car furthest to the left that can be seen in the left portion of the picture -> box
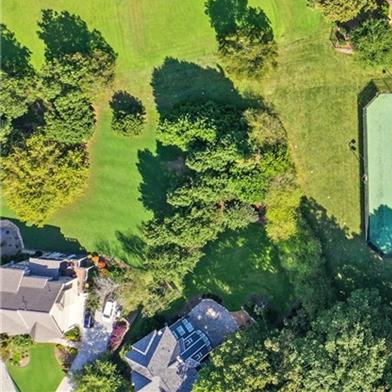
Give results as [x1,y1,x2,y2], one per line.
[82,306,95,329]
